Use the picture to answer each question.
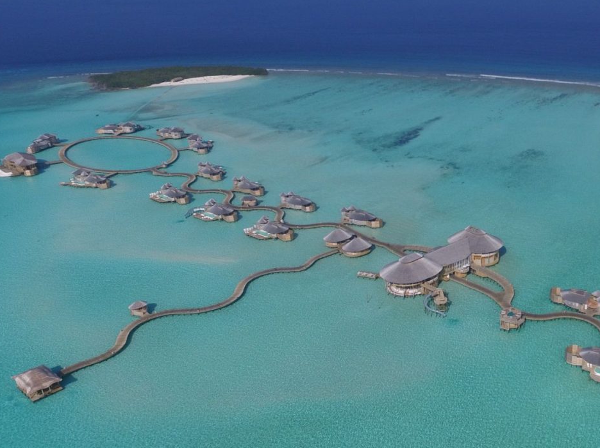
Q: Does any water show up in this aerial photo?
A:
Yes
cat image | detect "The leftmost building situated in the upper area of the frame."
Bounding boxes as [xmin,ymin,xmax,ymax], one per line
[0,156,39,179]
